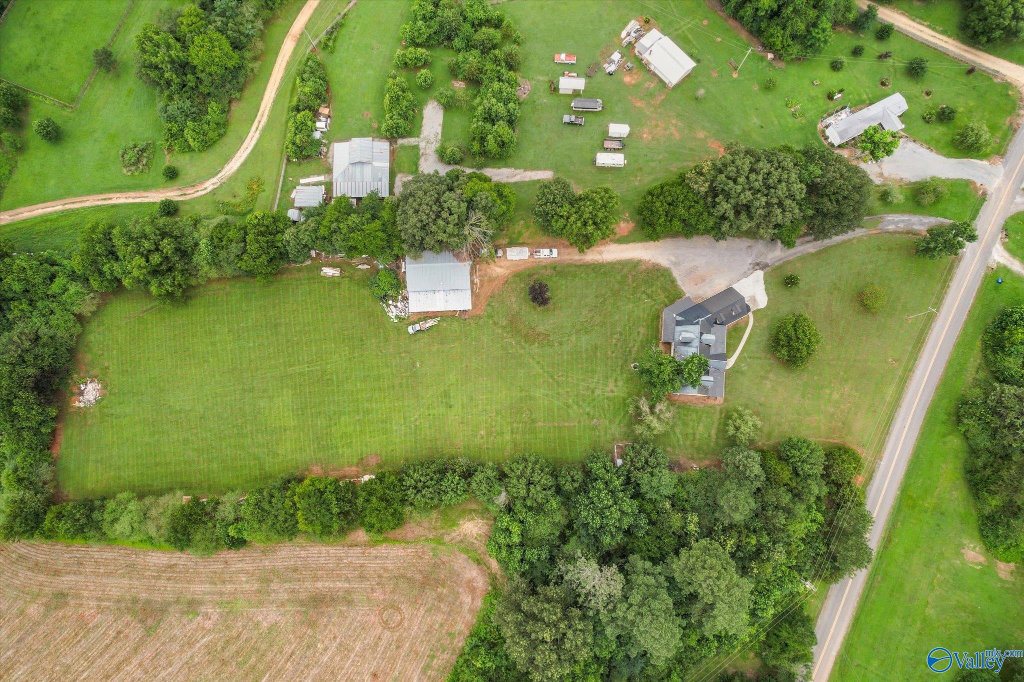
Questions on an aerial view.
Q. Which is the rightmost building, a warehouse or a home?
home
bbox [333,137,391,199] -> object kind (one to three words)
shed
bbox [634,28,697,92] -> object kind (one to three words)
building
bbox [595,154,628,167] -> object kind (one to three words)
vehicle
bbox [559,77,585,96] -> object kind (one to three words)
shed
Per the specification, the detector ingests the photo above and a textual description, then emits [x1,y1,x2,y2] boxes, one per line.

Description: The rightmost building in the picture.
[824,93,908,149]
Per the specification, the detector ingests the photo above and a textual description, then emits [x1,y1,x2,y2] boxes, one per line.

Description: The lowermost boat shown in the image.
[571,99,607,111]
